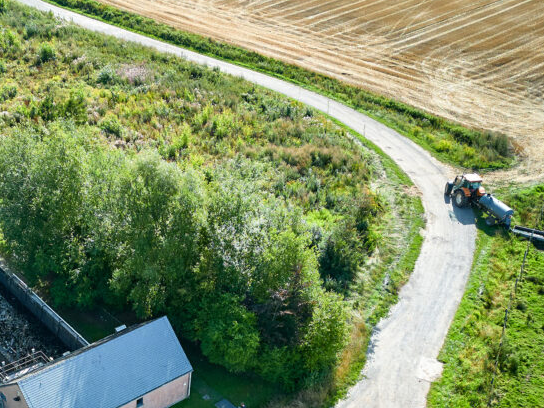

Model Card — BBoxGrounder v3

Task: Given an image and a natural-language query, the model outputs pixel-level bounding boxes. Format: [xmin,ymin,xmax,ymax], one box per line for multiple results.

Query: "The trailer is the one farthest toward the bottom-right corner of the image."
[478,188,518,226]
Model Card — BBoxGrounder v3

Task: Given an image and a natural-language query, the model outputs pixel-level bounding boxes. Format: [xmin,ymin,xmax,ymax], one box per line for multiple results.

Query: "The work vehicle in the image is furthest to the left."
[438,176,485,208]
